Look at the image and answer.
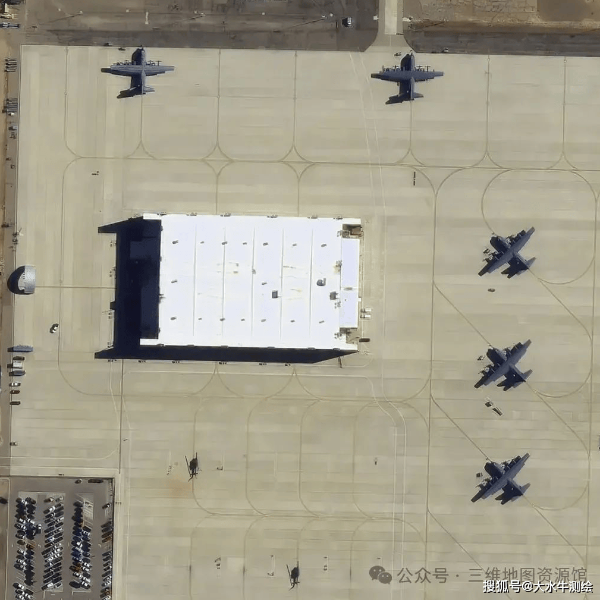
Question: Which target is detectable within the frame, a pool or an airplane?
airplane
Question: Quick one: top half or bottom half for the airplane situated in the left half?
top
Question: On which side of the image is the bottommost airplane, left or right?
right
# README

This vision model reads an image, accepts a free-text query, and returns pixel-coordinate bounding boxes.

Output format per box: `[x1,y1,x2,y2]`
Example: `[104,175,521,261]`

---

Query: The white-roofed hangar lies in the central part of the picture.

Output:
[131,214,361,351]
